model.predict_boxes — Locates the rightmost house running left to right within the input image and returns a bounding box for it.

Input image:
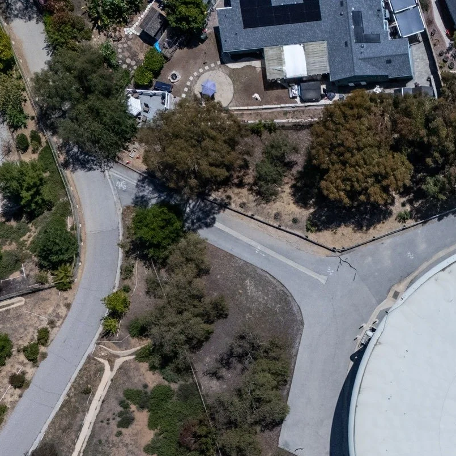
[214,0,415,87]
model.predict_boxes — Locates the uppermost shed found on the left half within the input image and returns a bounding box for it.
[139,7,174,40]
